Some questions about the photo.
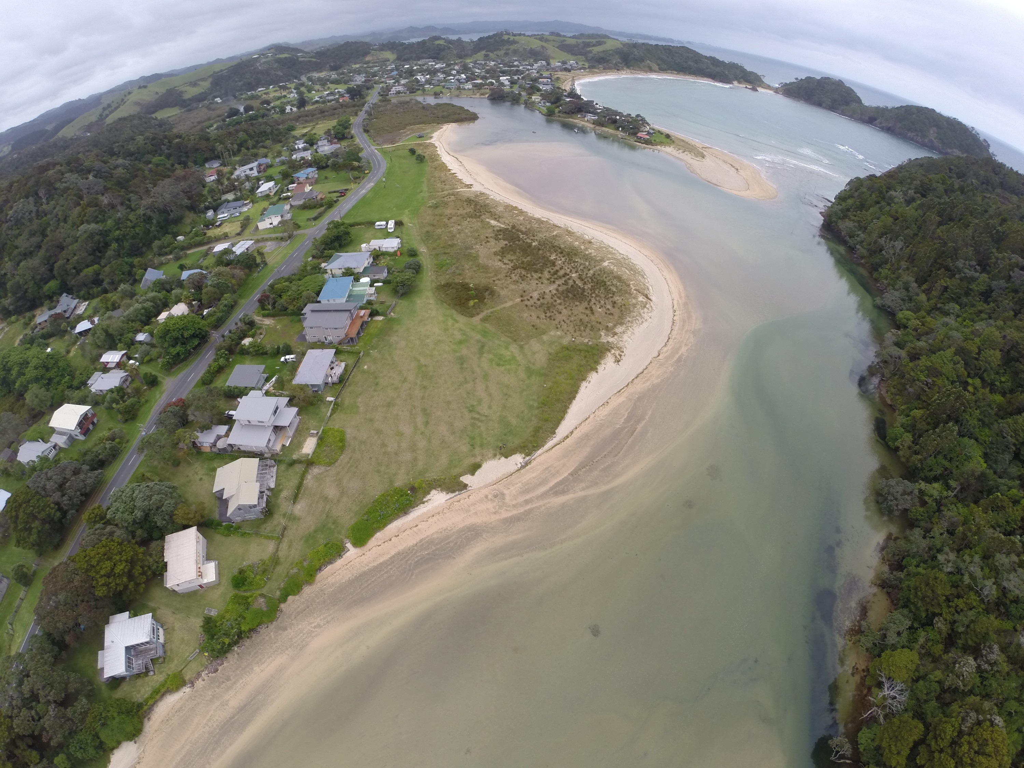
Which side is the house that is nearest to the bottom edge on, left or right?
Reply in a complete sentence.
The house that is nearest to the bottom edge is on the left side of the image.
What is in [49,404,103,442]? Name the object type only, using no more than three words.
house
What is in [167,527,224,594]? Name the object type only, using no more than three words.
house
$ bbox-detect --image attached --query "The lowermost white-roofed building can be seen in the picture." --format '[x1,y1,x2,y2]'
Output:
[98,611,166,681]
